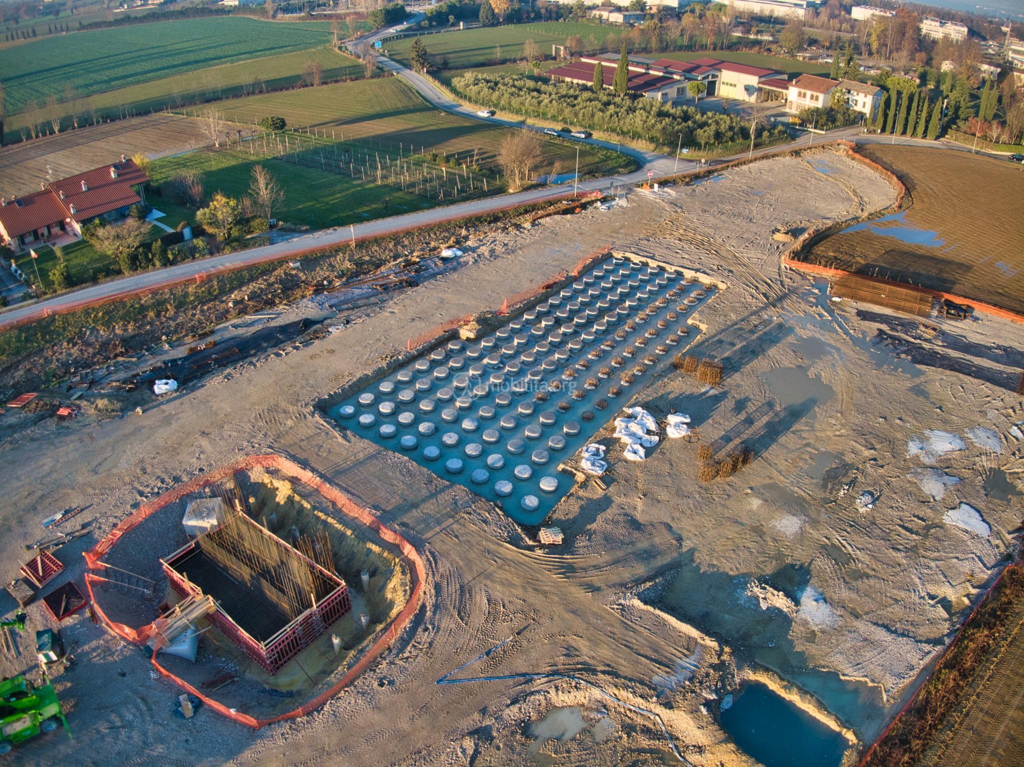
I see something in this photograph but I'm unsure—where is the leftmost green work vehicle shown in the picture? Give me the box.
[0,680,84,758]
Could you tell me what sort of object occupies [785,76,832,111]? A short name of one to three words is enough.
house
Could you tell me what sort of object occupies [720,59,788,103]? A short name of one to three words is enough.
building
